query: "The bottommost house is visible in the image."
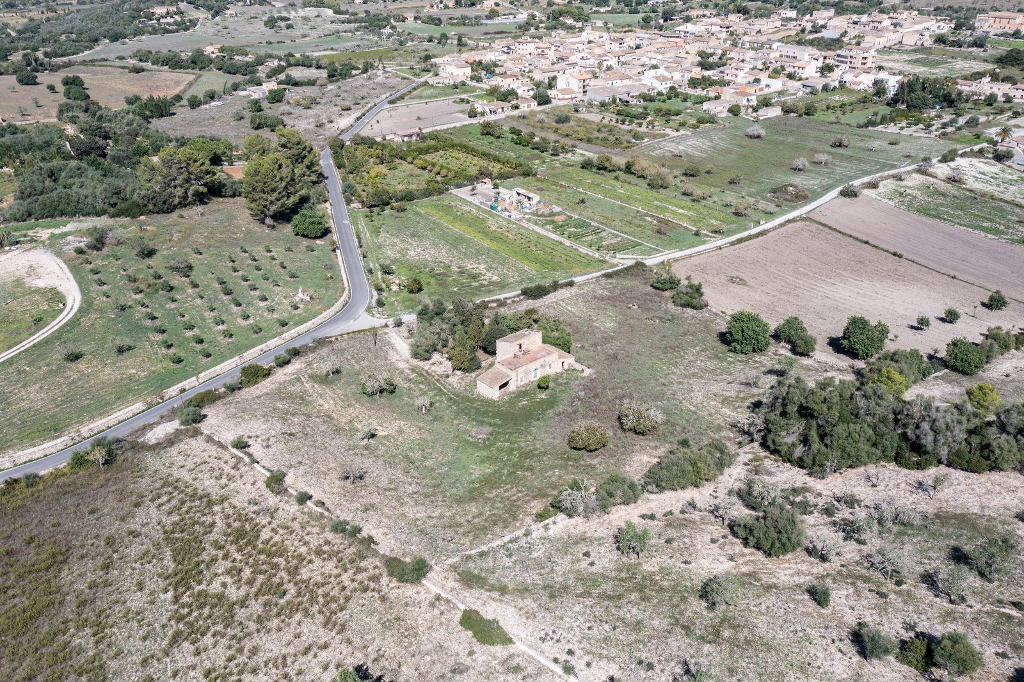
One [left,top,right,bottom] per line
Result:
[478,325,575,399]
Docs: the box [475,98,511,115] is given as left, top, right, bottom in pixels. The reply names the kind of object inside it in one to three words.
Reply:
house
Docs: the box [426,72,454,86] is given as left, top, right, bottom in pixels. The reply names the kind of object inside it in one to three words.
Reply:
house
